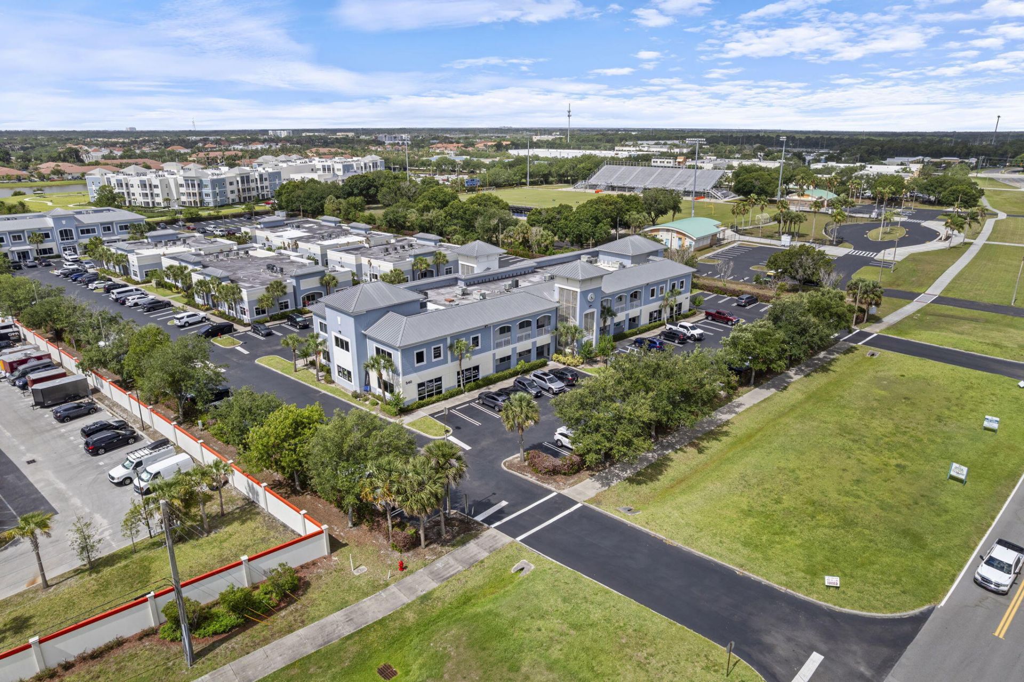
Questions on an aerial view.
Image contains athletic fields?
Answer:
Yes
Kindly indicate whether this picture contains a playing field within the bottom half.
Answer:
No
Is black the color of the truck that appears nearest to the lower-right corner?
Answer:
No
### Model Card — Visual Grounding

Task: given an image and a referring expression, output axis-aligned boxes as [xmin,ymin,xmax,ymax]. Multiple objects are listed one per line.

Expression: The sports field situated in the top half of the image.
[494,186,830,247]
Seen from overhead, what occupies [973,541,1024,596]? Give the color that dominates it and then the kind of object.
white truck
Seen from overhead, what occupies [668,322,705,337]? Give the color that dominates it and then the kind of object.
white vehicle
